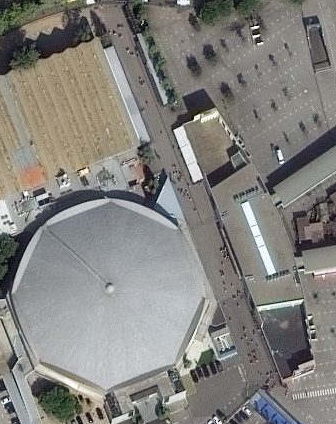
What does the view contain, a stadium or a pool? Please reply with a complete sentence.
The one in the frame is a stadium.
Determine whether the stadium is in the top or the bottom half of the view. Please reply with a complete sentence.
The stadium sits in the bottom half of the picture.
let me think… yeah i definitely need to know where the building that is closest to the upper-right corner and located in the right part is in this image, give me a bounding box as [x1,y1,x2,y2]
[308,21,330,74]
